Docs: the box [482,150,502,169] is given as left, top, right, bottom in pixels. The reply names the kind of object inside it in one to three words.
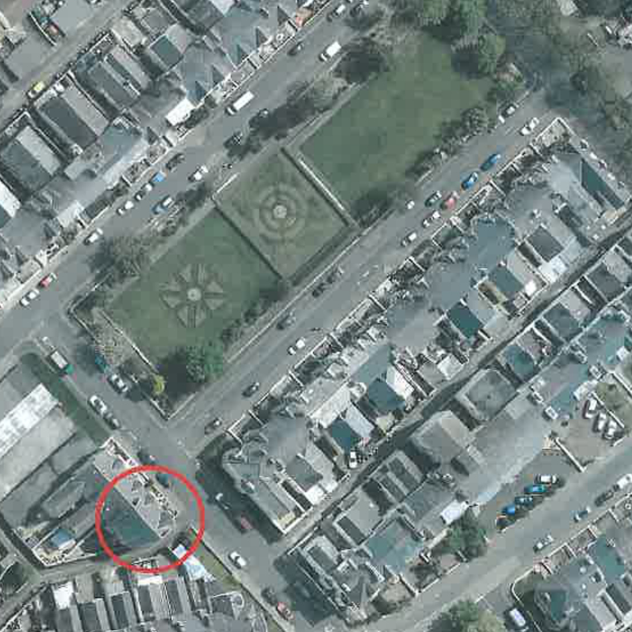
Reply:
car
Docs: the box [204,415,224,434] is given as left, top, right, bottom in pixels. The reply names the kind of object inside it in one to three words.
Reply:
car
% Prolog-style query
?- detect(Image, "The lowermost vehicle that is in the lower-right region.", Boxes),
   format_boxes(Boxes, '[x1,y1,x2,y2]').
[505,605,530,632]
